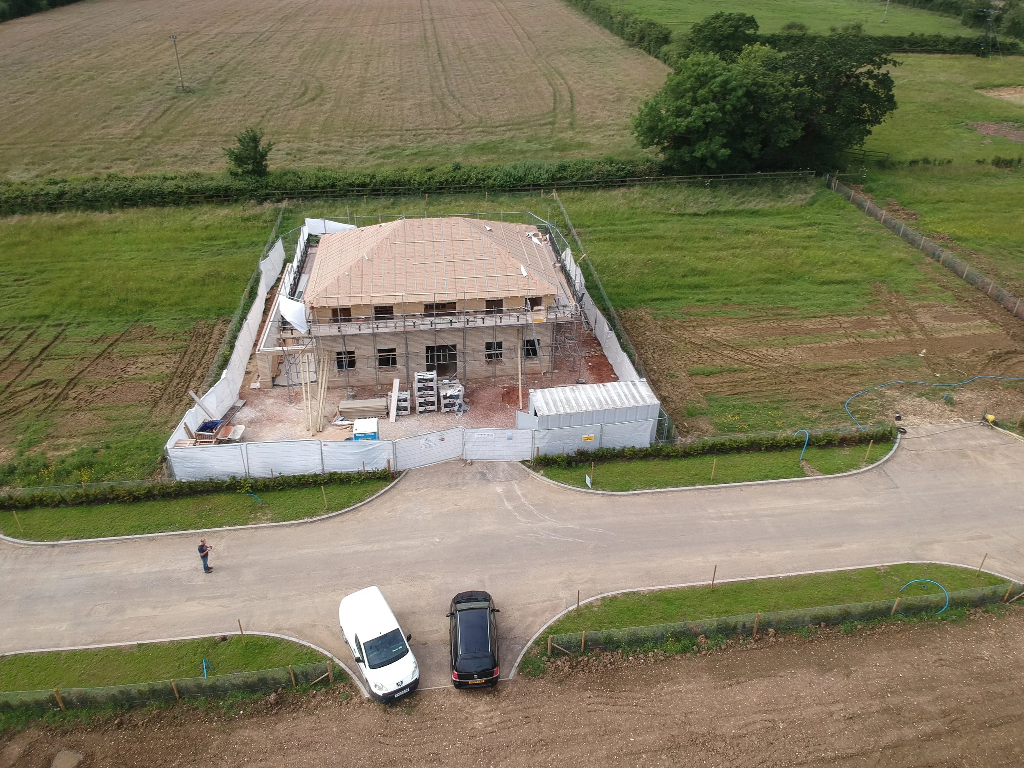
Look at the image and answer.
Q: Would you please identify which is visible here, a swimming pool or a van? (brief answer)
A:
van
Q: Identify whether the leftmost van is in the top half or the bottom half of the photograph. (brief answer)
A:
bottom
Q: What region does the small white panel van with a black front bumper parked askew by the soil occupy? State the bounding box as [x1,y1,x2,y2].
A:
[340,588,421,704]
